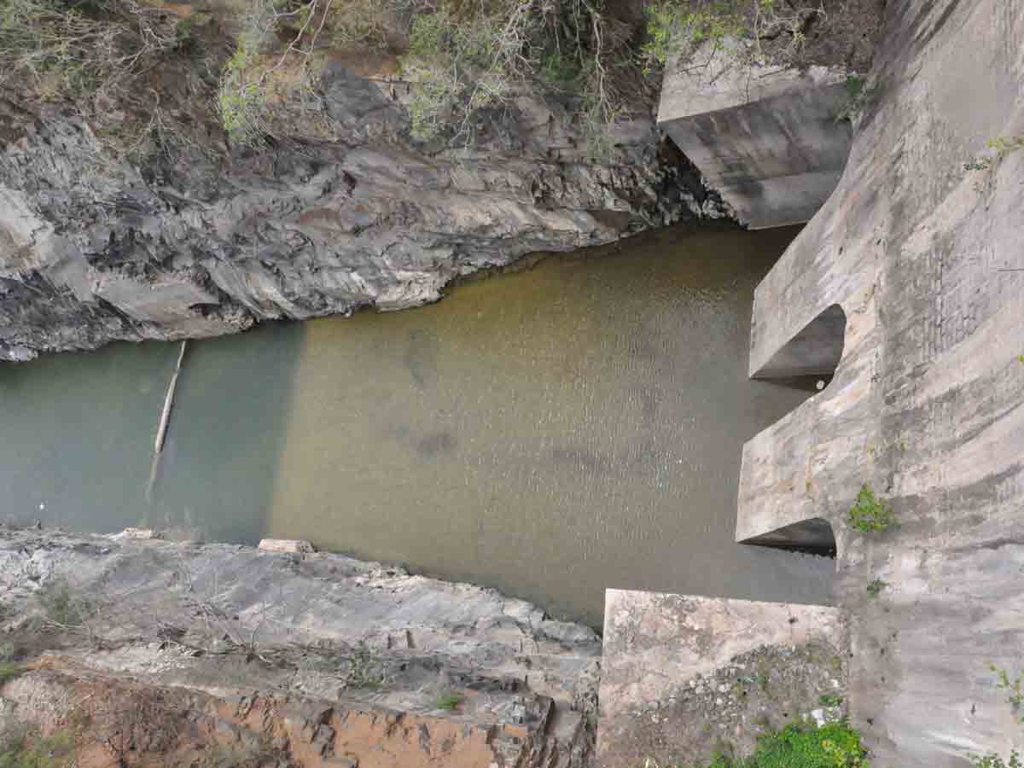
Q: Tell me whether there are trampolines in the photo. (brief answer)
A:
No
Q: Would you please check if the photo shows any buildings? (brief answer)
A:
No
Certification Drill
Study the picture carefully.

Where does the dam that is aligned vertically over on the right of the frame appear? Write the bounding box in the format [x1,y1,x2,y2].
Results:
[737,0,1024,768]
